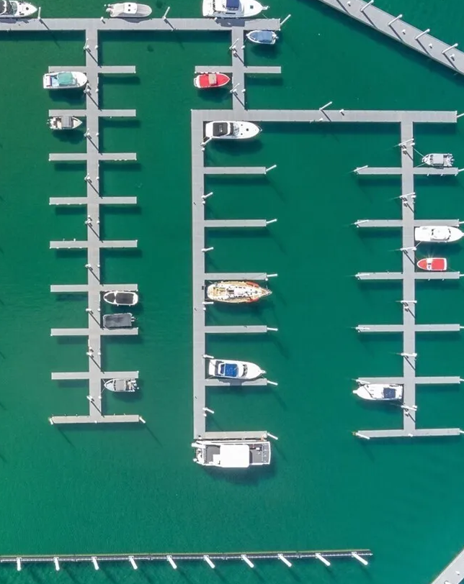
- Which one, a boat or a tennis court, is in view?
boat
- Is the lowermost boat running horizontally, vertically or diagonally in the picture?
horizontally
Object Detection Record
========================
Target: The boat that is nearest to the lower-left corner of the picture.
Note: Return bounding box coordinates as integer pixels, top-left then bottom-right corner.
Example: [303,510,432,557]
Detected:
[104,379,140,392]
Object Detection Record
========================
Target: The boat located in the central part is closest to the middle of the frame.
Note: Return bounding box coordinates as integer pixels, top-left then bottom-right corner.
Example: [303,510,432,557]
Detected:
[203,281,273,303]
